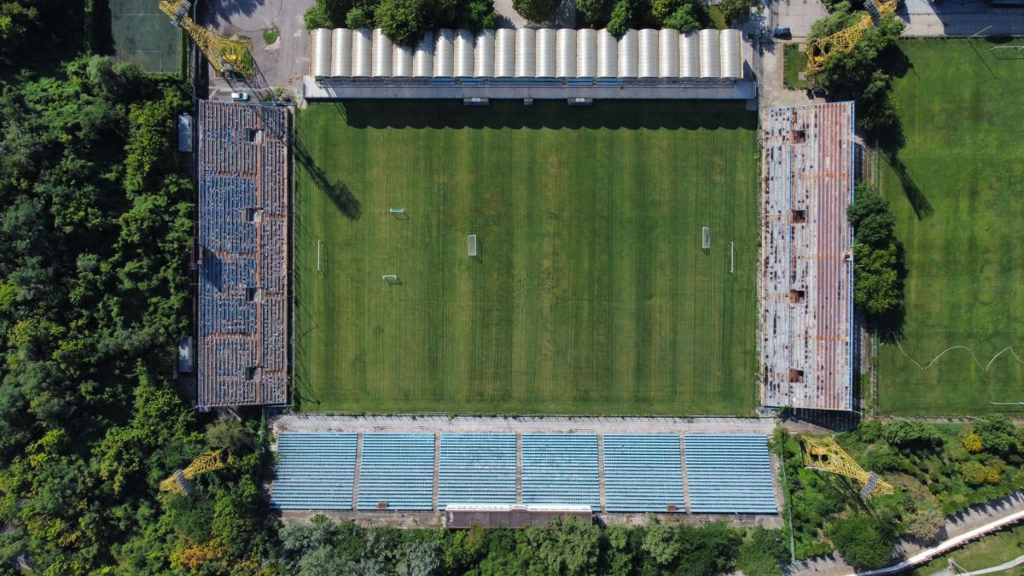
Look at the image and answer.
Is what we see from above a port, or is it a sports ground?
sports ground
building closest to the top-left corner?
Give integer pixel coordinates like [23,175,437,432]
[178,114,195,153]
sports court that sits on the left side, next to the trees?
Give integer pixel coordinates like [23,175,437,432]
[101,0,181,73]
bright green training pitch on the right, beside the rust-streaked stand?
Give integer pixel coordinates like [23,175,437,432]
[878,38,1024,416]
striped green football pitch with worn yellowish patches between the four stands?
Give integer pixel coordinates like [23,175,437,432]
[292,85,759,416]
